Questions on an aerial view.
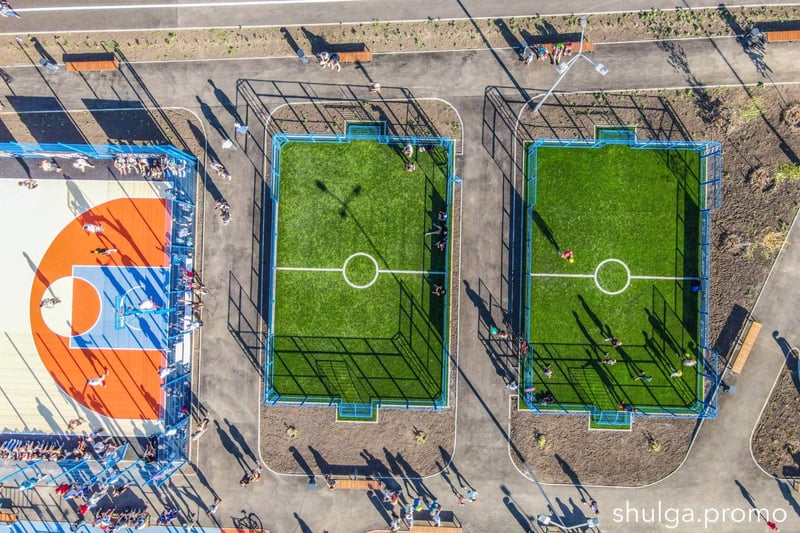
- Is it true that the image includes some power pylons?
No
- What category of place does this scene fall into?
sports ground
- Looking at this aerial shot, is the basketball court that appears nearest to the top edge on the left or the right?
left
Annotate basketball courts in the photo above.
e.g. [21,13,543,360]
[0,152,198,462]
[0,522,273,533]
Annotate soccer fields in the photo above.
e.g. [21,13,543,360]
[270,117,458,423]
[517,122,710,431]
